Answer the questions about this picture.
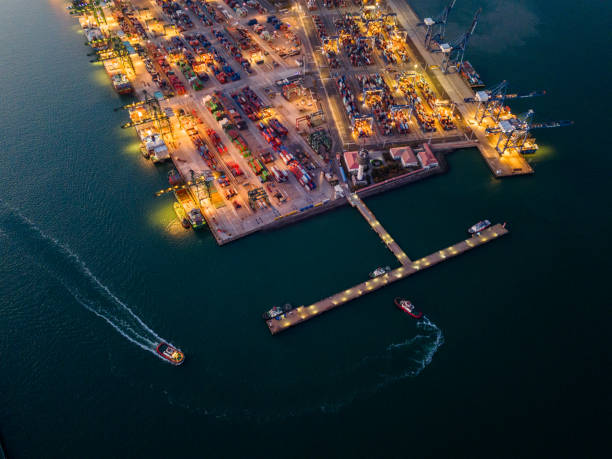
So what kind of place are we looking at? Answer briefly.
port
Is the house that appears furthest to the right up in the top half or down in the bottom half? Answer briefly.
top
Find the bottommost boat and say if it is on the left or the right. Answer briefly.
left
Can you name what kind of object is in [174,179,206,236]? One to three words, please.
ship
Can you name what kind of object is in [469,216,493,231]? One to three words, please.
ship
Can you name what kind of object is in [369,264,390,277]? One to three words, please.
boat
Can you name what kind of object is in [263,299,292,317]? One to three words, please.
boat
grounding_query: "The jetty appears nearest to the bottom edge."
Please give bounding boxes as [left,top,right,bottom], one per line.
[266,197,508,335]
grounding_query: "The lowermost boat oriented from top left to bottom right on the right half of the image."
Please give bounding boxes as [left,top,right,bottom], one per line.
[396,295,425,320]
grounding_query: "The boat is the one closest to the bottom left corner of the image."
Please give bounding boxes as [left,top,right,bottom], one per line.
[153,339,184,363]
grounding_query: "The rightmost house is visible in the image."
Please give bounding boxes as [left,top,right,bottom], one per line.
[418,143,440,170]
